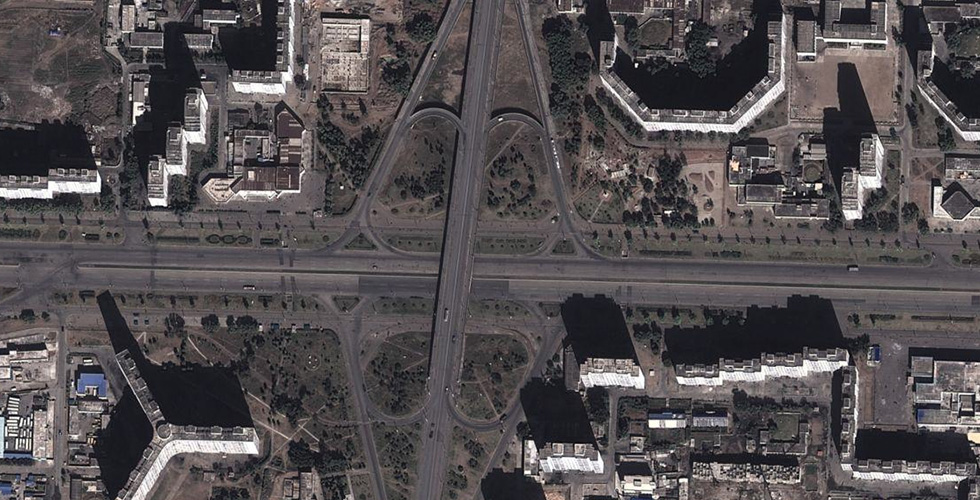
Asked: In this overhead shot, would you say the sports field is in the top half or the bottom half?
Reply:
top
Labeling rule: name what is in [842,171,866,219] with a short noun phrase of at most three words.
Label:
building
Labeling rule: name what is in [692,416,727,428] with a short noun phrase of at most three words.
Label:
shed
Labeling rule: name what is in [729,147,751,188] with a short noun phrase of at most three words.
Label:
building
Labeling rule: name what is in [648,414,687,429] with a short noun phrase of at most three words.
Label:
shed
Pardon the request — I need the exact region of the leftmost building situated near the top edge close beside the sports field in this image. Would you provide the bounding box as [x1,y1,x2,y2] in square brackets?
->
[600,20,786,133]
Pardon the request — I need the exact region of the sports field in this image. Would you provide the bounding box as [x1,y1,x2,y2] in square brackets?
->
[791,57,897,119]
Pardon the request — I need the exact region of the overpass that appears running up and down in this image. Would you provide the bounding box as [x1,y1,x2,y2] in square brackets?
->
[429,0,504,396]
